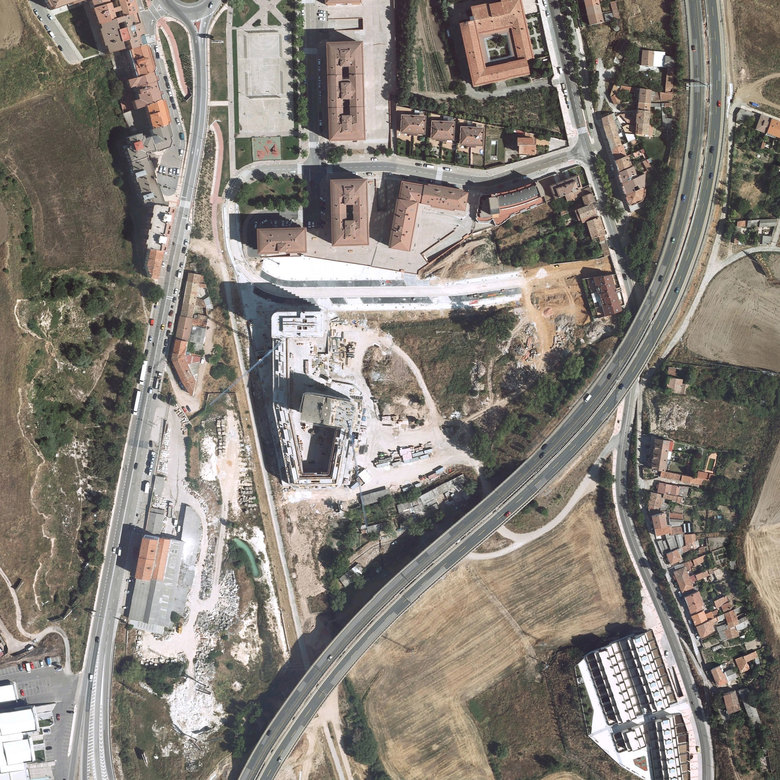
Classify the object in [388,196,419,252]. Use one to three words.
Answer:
building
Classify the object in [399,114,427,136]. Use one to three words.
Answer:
house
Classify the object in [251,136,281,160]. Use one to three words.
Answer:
playground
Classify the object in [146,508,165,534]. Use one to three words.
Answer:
shed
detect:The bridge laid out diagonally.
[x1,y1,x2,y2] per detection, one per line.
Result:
[238,0,726,780]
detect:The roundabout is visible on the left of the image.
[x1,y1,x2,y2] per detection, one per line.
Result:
[165,0,225,21]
